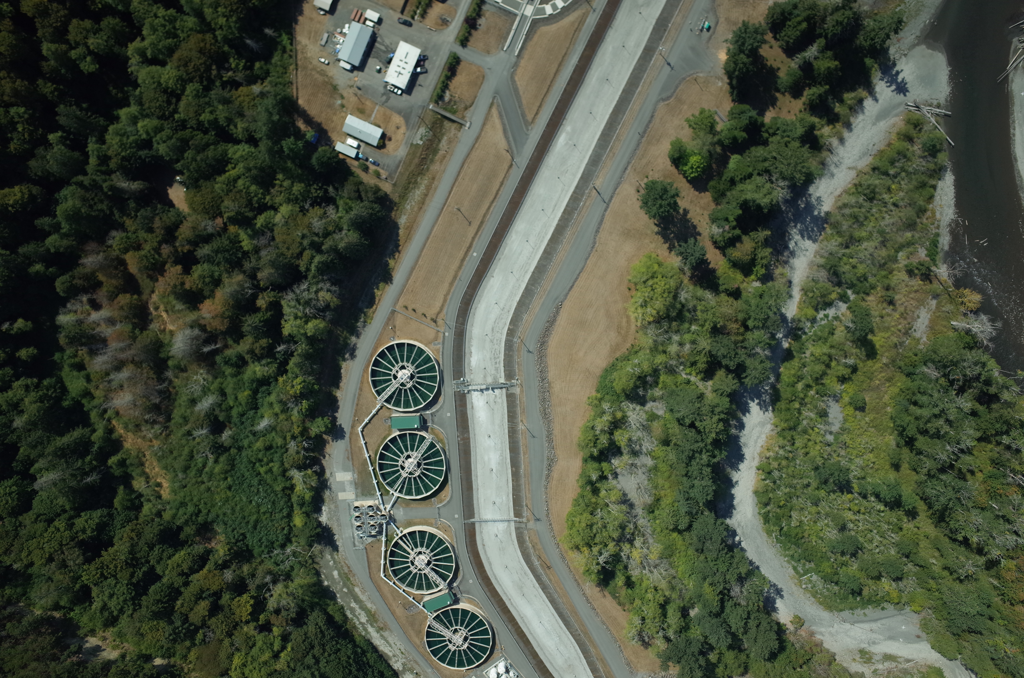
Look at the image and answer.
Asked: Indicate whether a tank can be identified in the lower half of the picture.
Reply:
Yes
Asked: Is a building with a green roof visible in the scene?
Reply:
Yes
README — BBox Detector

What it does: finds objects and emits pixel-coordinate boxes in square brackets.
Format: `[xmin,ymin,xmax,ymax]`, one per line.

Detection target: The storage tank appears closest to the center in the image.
[370,338,442,410]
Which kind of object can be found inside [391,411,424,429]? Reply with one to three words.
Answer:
building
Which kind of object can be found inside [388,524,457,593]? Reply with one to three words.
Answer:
storage tank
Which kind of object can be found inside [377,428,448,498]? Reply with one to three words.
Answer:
storage tank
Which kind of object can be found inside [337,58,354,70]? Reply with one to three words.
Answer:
vehicle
